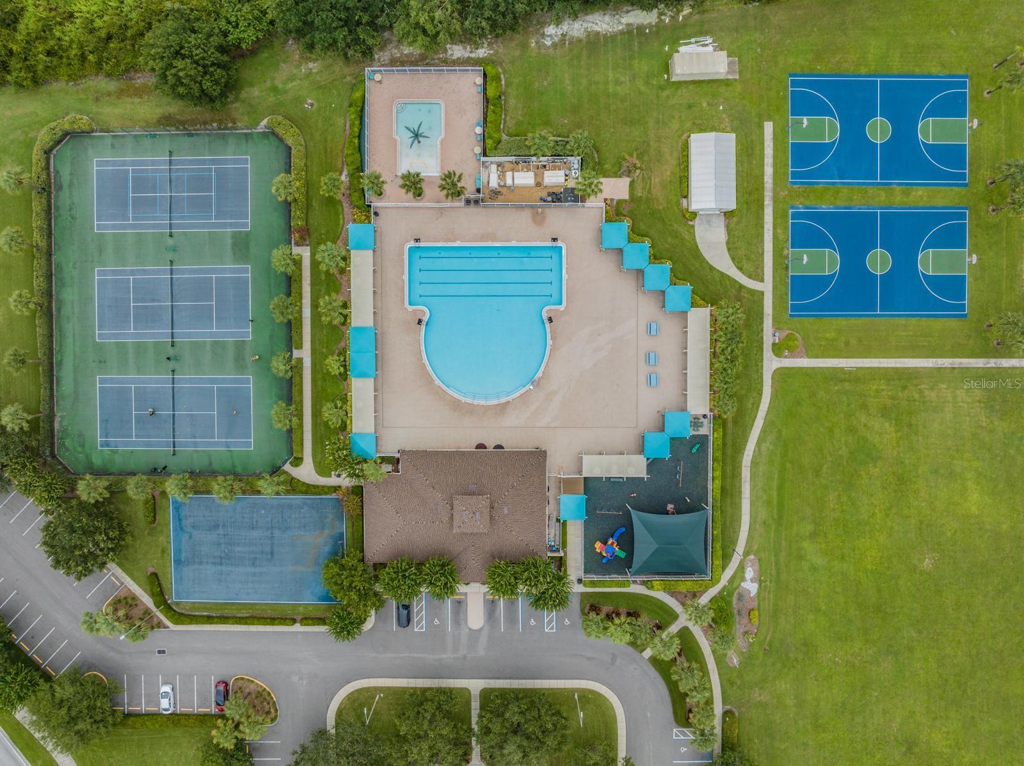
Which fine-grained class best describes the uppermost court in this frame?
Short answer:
basketball court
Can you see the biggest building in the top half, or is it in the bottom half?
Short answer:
bottom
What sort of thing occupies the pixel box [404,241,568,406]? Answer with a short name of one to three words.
swimming pool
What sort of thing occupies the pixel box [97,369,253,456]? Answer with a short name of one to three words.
tennis court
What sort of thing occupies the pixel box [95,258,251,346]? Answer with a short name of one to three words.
tennis court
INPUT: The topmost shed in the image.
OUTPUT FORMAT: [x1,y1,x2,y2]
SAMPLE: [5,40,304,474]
[668,52,731,80]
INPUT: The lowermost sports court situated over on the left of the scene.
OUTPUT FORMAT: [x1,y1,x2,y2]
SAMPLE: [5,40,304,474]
[170,496,346,604]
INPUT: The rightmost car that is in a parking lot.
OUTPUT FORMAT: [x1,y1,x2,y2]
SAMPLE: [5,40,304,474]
[396,597,411,629]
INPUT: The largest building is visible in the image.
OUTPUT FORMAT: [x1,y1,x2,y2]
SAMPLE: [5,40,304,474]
[363,449,548,584]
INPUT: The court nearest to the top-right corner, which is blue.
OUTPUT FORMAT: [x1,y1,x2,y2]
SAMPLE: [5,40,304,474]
[789,73,968,186]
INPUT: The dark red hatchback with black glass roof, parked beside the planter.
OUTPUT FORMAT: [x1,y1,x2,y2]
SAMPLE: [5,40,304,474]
[213,680,230,711]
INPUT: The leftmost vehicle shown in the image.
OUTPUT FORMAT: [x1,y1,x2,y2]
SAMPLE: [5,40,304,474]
[159,683,175,714]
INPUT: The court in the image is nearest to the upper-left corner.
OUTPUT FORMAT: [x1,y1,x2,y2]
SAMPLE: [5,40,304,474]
[94,146,250,237]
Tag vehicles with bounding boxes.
[159,683,175,714]
[396,597,411,629]
[213,680,230,711]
